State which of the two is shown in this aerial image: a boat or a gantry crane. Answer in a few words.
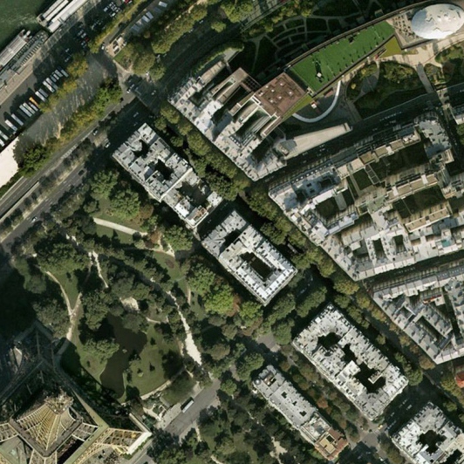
boat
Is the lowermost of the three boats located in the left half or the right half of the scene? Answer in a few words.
left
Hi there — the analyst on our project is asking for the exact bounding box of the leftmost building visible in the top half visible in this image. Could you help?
[111,123,192,203]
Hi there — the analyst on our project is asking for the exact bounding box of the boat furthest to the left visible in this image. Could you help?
[0,29,31,68]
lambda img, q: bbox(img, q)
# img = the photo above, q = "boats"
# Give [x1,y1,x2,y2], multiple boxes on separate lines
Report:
[39,0,70,26]
[0,29,31,68]
[49,0,89,33]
